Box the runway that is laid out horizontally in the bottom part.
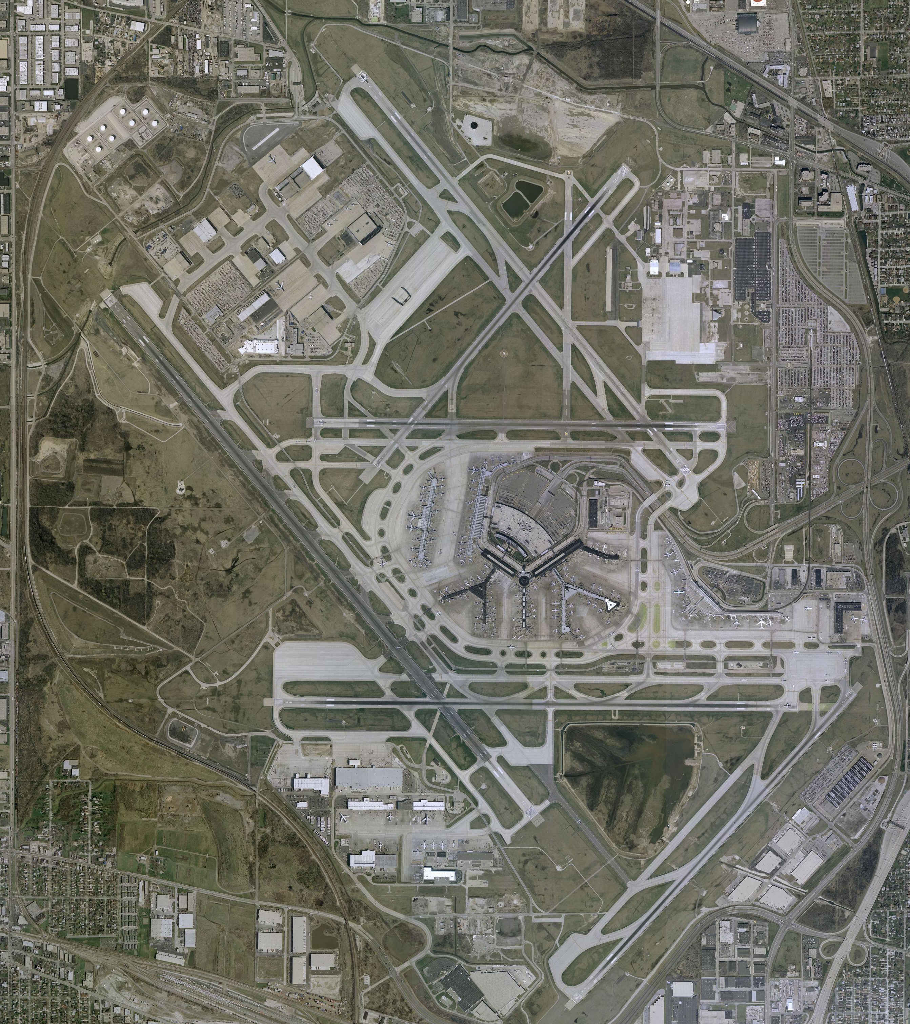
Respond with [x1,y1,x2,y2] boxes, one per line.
[273,696,798,712]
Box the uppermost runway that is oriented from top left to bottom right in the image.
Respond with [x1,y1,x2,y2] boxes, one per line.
[358,70,689,473]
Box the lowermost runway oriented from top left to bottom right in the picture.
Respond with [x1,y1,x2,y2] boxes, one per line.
[104,294,536,816]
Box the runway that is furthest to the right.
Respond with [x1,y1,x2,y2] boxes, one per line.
[573,690,855,1002]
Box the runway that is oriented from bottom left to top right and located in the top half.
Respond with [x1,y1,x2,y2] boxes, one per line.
[373,167,627,466]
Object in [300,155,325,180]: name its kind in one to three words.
hangar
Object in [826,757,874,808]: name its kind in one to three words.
shed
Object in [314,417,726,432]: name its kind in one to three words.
runway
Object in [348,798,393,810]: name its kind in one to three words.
building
